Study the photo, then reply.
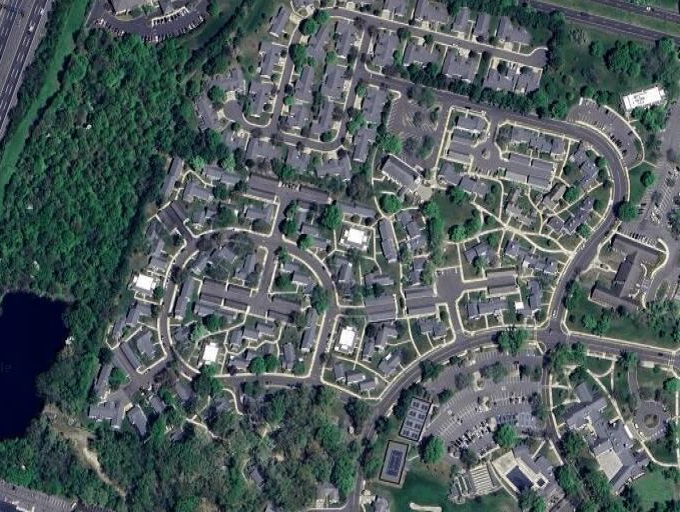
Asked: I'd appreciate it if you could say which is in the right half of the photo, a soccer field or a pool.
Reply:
pool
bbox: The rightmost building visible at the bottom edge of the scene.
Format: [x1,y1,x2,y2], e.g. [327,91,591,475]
[564,384,652,492]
